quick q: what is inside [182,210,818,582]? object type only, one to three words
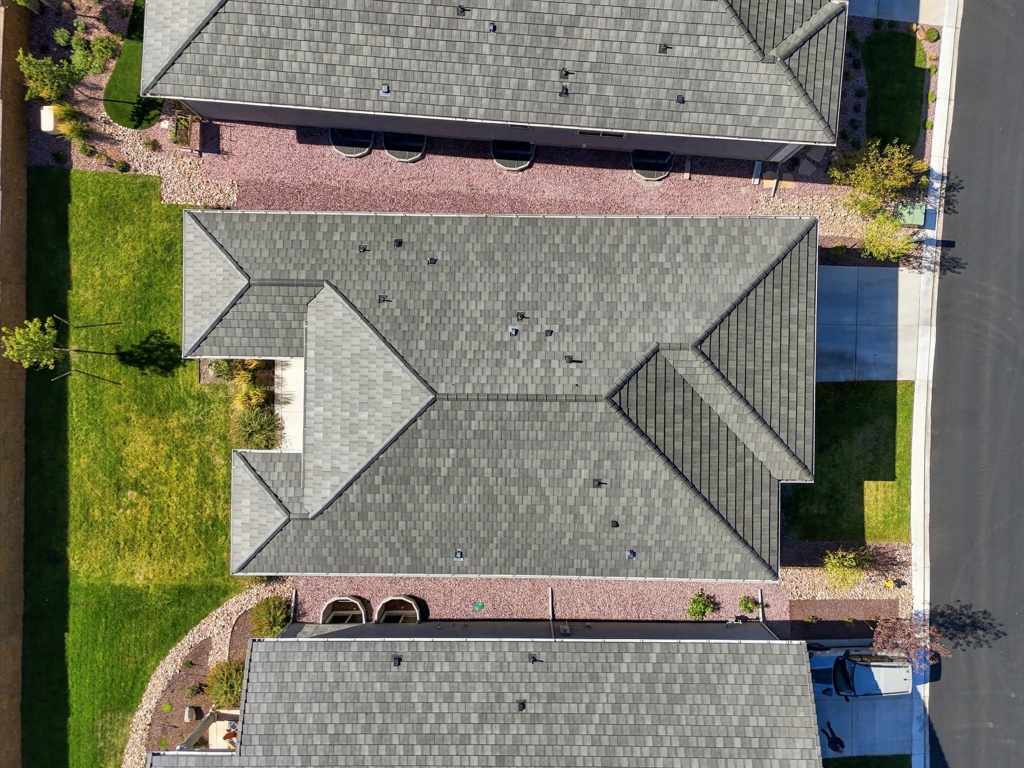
house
